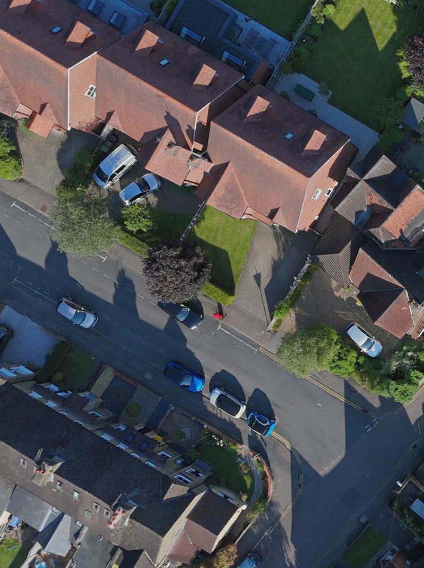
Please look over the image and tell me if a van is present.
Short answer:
Yes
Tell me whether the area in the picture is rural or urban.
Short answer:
urban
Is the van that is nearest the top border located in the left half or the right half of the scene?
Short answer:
left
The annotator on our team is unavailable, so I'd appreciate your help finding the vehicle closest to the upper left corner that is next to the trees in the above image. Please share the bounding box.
[93,143,137,189]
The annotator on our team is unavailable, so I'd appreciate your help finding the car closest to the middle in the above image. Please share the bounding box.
[156,297,203,329]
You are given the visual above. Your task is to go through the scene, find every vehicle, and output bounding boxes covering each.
[93,143,137,189]
[238,552,262,568]
[0,324,16,355]
[210,389,247,419]
[244,411,277,436]
[344,320,383,356]
[163,363,205,391]
[118,173,164,207]
[54,298,100,329]
[156,297,203,329]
